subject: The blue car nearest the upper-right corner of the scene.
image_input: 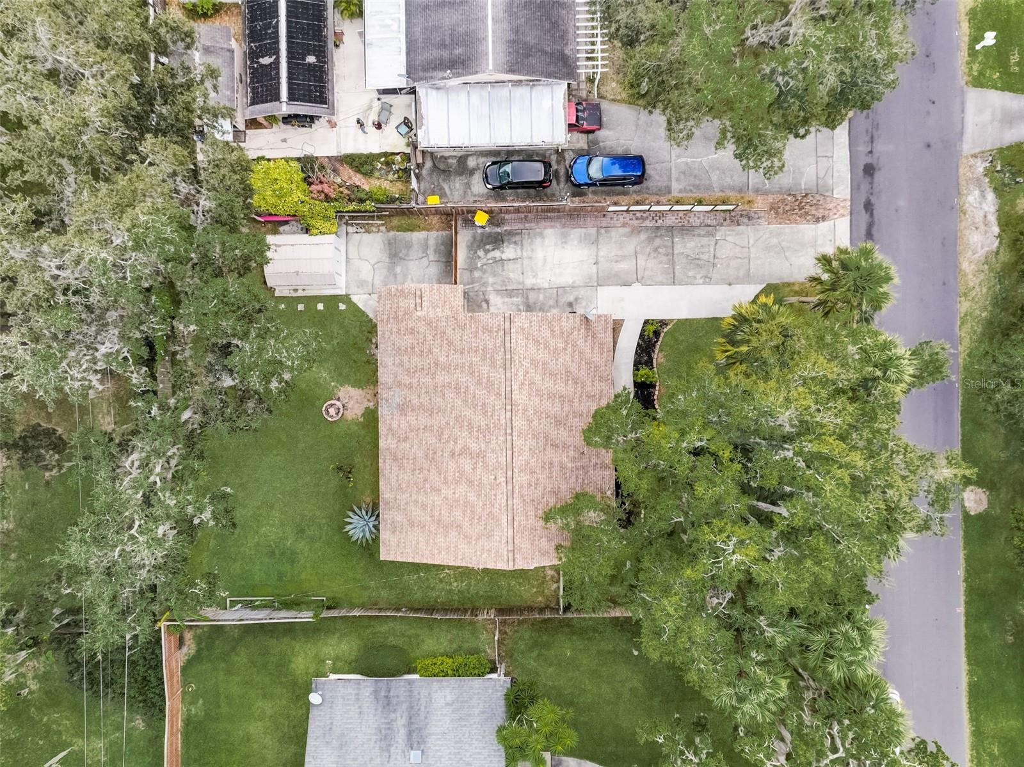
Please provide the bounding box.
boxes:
[568,149,645,187]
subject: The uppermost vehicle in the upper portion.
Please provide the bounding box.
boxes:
[566,97,602,134]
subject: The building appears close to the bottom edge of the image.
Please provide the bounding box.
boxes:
[305,673,511,767]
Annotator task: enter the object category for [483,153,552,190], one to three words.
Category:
car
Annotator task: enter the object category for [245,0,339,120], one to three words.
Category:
house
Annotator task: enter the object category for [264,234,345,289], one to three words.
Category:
shed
